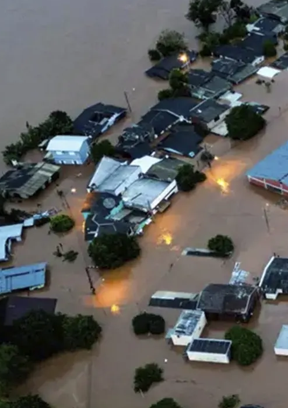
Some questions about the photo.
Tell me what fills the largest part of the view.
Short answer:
water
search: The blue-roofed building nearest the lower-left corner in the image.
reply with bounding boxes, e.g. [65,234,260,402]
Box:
[0,262,47,298]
